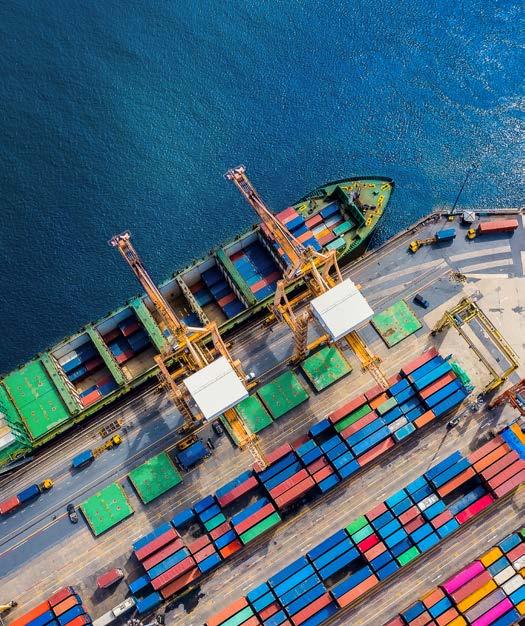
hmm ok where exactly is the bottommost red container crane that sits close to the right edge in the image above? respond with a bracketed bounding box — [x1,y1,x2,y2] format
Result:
[486,380,525,421]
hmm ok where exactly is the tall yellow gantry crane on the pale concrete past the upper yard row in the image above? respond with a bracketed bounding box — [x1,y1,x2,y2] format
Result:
[428,300,523,396]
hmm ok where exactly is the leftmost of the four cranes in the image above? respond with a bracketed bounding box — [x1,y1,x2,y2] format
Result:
[109,227,270,469]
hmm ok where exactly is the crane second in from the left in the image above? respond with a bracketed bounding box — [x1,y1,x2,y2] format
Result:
[229,166,397,388]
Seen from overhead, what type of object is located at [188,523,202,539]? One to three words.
work vehicle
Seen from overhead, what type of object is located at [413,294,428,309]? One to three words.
vehicle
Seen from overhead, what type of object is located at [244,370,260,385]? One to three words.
car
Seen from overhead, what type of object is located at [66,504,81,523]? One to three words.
vehicle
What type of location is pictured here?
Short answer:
port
